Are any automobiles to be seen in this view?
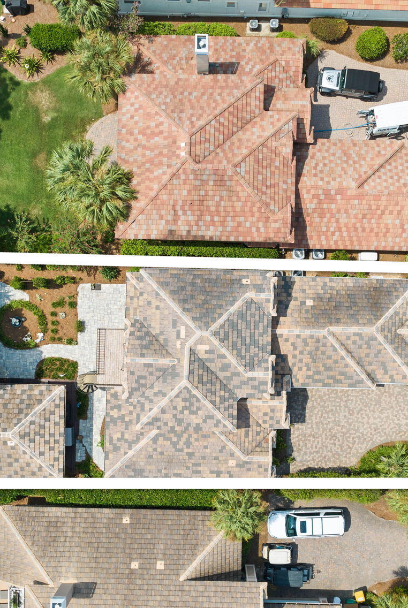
Yes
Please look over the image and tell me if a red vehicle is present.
No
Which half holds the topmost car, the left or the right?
right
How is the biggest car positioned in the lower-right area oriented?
horizontally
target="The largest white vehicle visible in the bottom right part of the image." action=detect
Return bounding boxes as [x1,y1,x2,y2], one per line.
[267,505,345,543]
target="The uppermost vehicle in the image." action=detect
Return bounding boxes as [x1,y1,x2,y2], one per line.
[314,63,384,103]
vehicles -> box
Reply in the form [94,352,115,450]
[267,505,345,543]
[314,63,384,103]
[259,542,293,566]
[259,565,316,591]
[356,98,408,141]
